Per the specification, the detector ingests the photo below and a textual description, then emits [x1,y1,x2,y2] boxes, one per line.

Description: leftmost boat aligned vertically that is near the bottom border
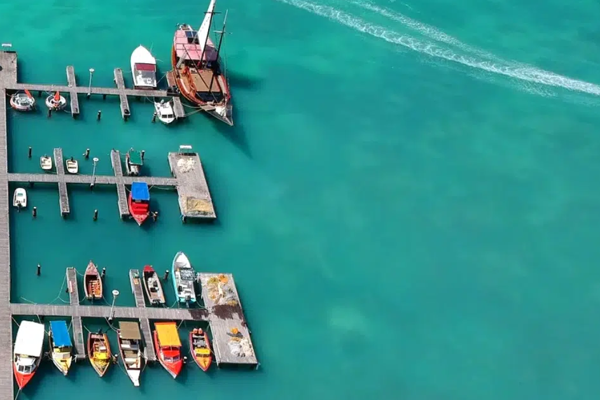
[11,317,48,391]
